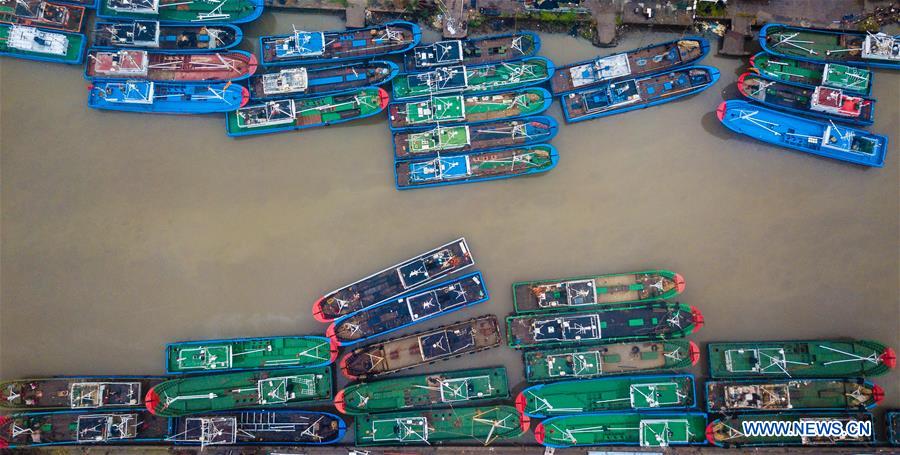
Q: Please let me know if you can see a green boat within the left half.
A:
Yes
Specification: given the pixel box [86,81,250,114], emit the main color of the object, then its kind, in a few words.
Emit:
blue boat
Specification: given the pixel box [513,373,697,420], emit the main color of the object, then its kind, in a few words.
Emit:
green boat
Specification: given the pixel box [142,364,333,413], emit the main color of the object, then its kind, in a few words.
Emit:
green boat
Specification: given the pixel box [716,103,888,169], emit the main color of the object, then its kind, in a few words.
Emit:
blue boat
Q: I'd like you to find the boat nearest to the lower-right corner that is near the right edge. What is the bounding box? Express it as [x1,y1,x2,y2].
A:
[879,410,900,444]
